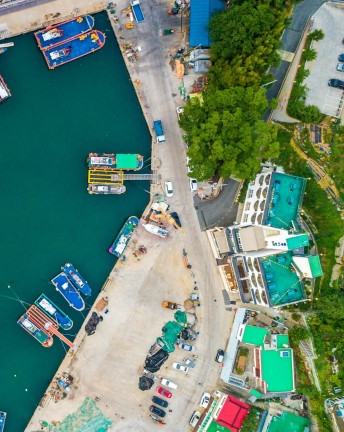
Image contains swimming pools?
No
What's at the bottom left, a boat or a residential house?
boat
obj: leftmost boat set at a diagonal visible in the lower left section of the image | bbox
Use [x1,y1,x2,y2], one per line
[17,314,52,348]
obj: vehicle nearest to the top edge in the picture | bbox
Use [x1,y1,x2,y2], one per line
[131,0,146,23]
